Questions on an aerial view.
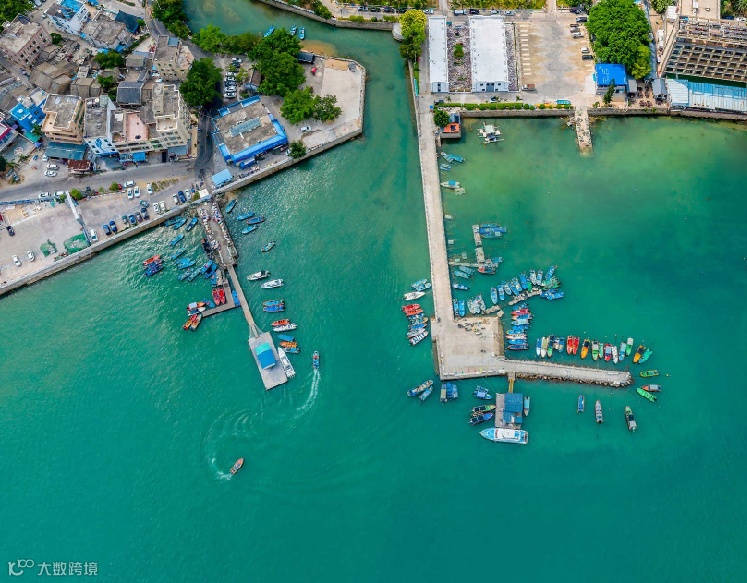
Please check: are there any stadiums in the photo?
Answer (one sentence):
No, the frame has no stadium in it.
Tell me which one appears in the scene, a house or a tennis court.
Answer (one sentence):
Of the two, only a house appears.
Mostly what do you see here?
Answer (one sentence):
The bulk of the photo consists of water.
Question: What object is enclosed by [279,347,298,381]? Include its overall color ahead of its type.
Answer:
white vessel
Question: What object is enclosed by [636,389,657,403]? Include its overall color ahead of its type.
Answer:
green boat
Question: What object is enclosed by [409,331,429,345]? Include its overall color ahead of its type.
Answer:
white boat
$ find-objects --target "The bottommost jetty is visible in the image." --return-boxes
[494,393,523,430]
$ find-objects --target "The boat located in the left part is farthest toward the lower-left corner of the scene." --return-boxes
[229,458,244,474]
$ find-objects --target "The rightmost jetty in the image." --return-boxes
[575,112,593,157]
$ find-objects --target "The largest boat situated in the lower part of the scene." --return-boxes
[479,428,528,446]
